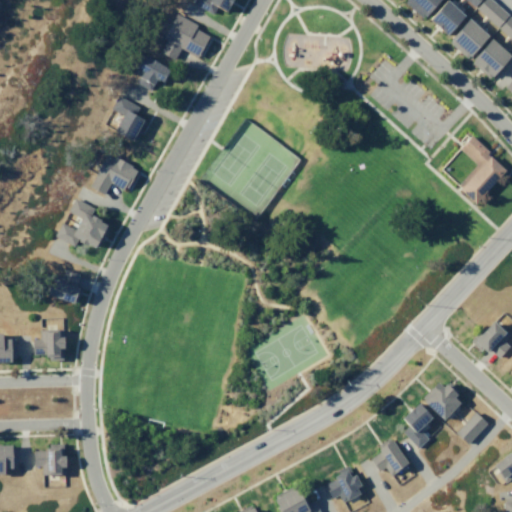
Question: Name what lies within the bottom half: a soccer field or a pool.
soccer field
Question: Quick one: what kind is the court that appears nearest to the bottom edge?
basketball court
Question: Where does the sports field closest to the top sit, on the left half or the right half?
right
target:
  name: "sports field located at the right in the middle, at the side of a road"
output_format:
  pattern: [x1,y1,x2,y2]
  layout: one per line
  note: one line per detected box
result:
[310,148,444,342]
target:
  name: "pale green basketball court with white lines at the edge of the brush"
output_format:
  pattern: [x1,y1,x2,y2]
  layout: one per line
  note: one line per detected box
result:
[246,316,326,390]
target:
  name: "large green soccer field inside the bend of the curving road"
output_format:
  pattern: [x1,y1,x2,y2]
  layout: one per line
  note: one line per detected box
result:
[105,258,244,431]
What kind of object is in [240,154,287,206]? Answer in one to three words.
tennis court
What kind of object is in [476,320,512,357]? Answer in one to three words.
house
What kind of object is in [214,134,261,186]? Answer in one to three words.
tennis court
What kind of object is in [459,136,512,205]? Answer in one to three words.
building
